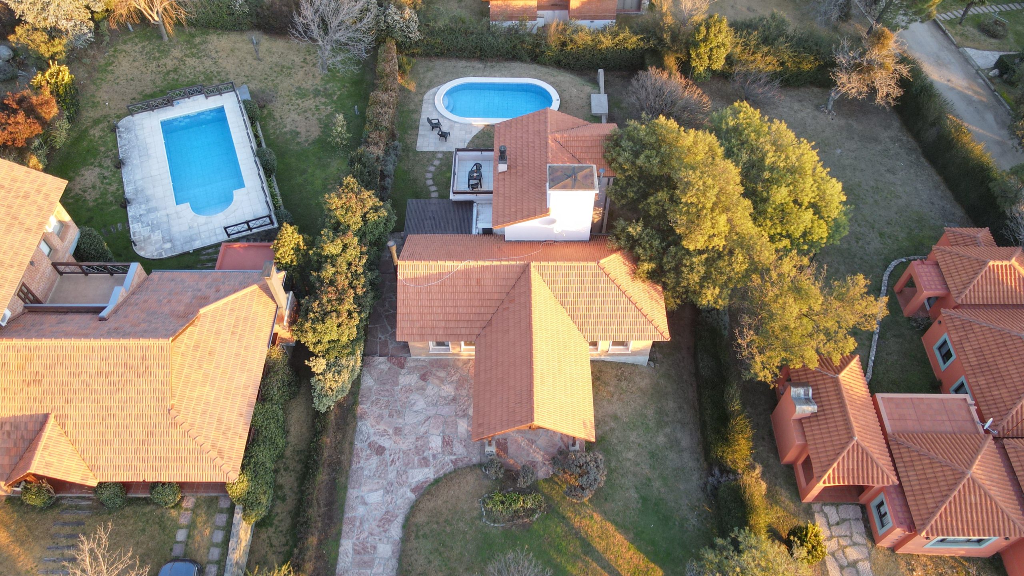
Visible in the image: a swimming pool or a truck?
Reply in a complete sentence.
It is a swimming pool that can be seen here.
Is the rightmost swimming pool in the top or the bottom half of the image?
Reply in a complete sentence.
The rightmost swimming pool is in the top half of the image.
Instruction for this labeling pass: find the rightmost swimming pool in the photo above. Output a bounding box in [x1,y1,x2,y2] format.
[434,78,559,124]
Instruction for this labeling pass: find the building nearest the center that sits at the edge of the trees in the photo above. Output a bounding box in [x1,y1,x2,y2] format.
[387,108,671,460]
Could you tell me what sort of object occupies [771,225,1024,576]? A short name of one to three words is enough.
house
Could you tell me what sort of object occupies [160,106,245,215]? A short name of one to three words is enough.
swimming pool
